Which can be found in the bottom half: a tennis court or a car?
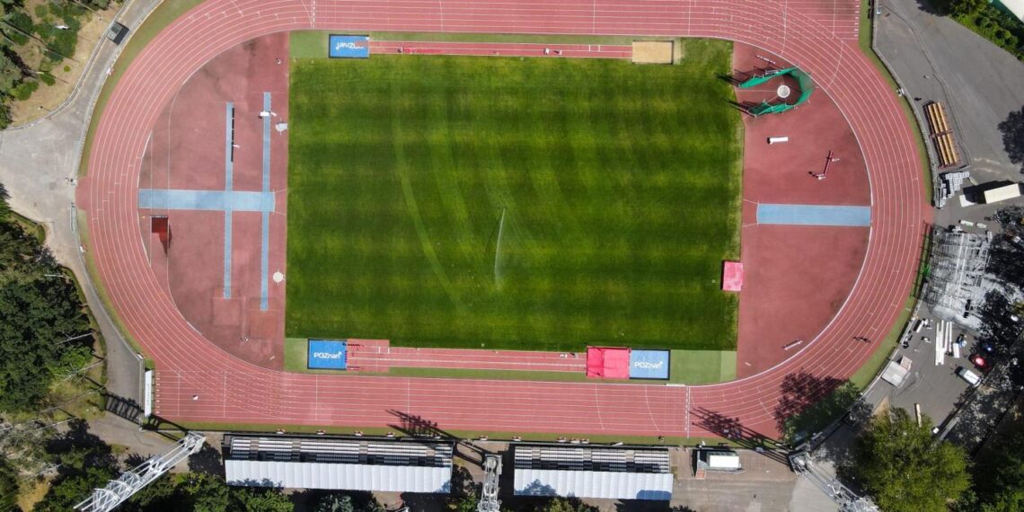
car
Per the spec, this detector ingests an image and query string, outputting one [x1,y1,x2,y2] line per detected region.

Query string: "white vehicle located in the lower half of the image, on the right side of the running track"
[958,369,981,387]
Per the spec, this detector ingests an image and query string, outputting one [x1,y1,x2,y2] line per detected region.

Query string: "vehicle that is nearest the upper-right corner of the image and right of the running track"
[964,183,1021,207]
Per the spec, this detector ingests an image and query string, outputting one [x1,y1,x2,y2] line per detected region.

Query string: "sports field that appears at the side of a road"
[285,29,744,386]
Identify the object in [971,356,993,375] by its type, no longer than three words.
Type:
car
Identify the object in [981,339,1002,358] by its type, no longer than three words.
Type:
car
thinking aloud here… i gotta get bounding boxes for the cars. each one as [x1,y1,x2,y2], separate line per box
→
[971,356,993,375]
[981,339,1002,358]
[958,369,981,387]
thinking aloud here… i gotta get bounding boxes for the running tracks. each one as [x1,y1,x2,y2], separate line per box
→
[76,0,934,437]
